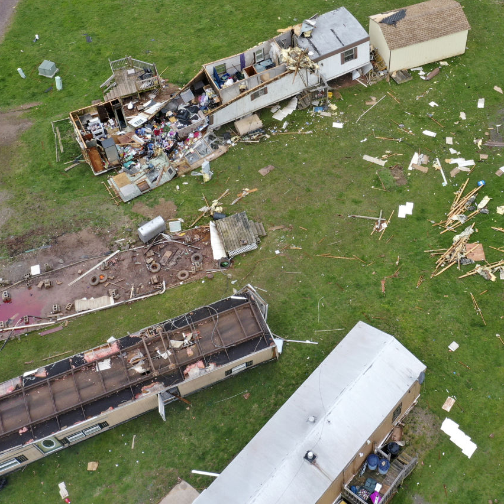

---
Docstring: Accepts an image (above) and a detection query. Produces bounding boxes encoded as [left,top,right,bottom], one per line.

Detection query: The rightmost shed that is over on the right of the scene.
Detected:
[373,0,470,72]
